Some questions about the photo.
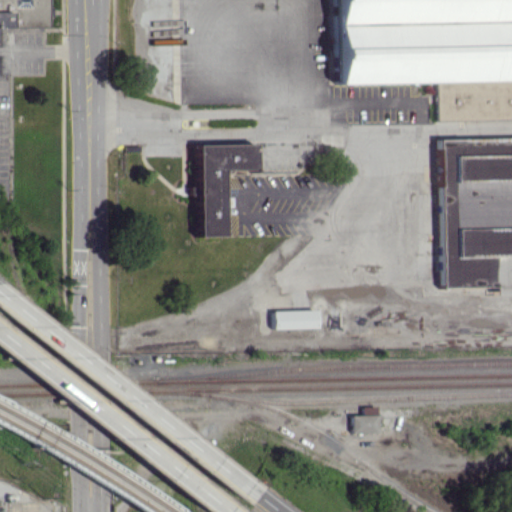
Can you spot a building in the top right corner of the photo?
Yes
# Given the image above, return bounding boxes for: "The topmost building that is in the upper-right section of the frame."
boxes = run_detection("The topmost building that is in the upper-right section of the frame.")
[333,0,512,87]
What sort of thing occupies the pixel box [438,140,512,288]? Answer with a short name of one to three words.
building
